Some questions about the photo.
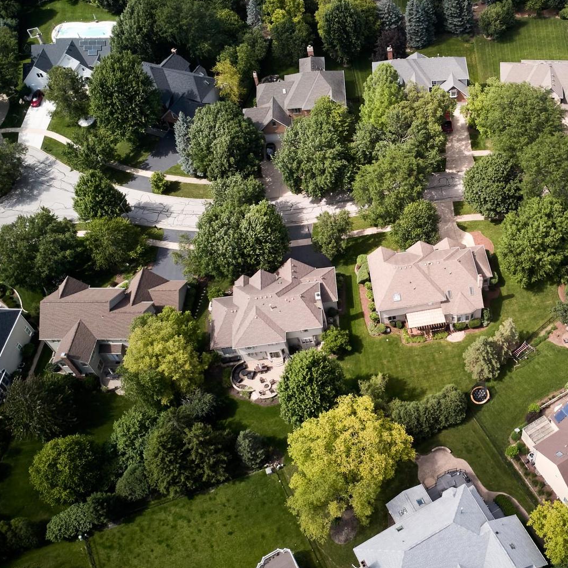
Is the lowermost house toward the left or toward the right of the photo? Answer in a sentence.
It is on the right.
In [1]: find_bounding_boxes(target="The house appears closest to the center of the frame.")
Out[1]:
[210,248,338,366]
